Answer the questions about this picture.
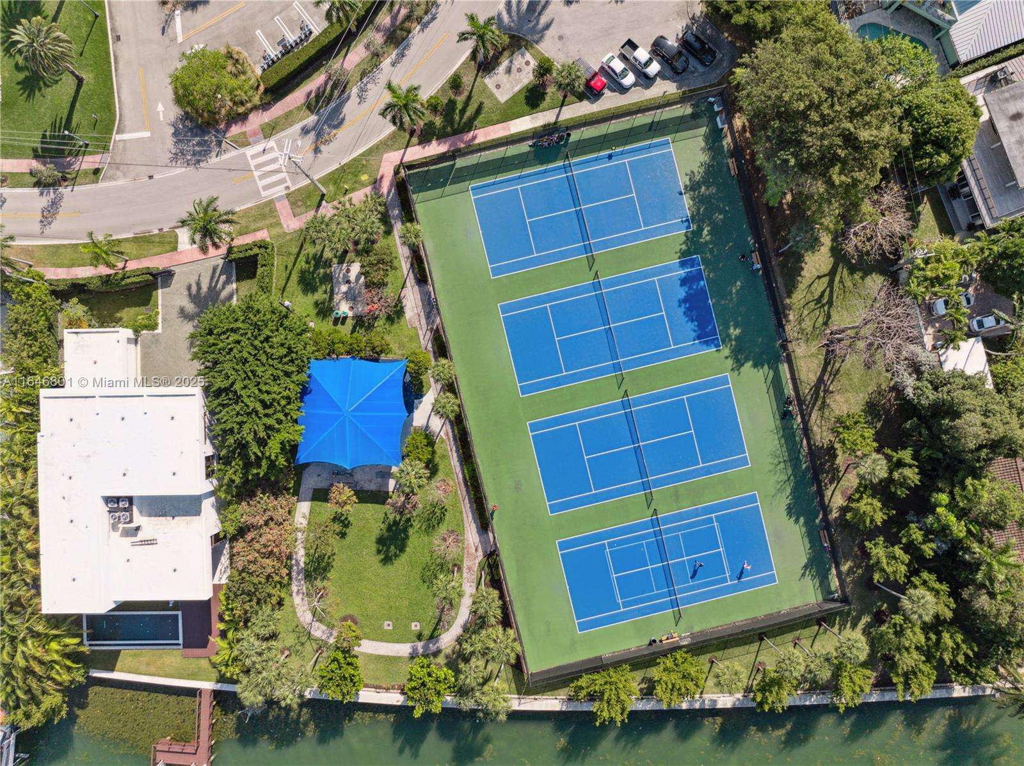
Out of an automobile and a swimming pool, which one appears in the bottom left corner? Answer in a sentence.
You can see a swimming pool in the bottom left corner.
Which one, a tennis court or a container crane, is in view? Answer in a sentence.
This aerial view contains a tennis court.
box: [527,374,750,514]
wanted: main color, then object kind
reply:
blue tennis court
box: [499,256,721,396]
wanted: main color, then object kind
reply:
blue tennis court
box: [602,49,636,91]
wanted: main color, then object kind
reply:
white car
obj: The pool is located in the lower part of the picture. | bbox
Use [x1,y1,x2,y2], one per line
[81,611,183,650]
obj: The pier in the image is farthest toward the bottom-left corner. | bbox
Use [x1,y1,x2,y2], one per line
[148,690,218,766]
